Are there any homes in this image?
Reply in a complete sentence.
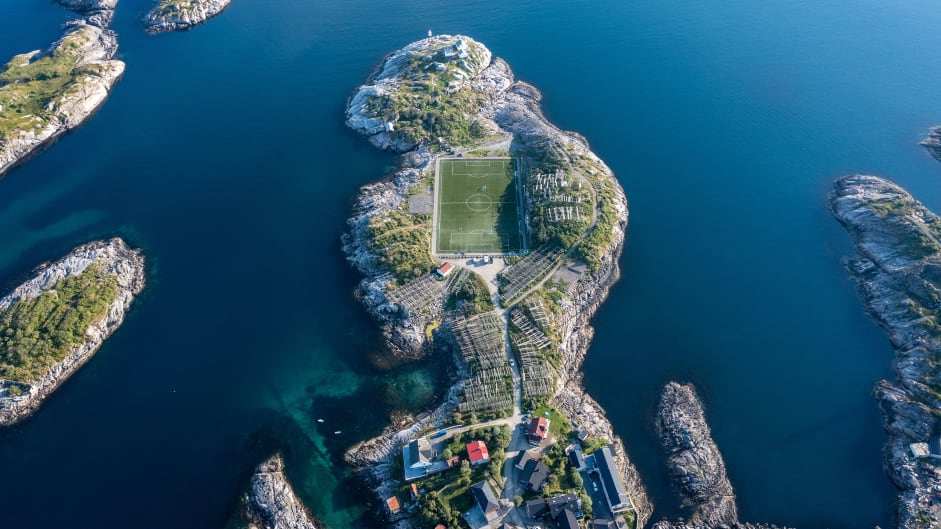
Yes, the photo shows a home.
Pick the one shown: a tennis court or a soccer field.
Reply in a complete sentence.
There is a soccer field in the scene.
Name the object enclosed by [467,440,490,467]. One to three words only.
house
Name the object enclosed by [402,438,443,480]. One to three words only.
house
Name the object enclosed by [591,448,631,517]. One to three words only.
building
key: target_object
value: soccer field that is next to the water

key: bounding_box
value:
[432,158,527,255]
